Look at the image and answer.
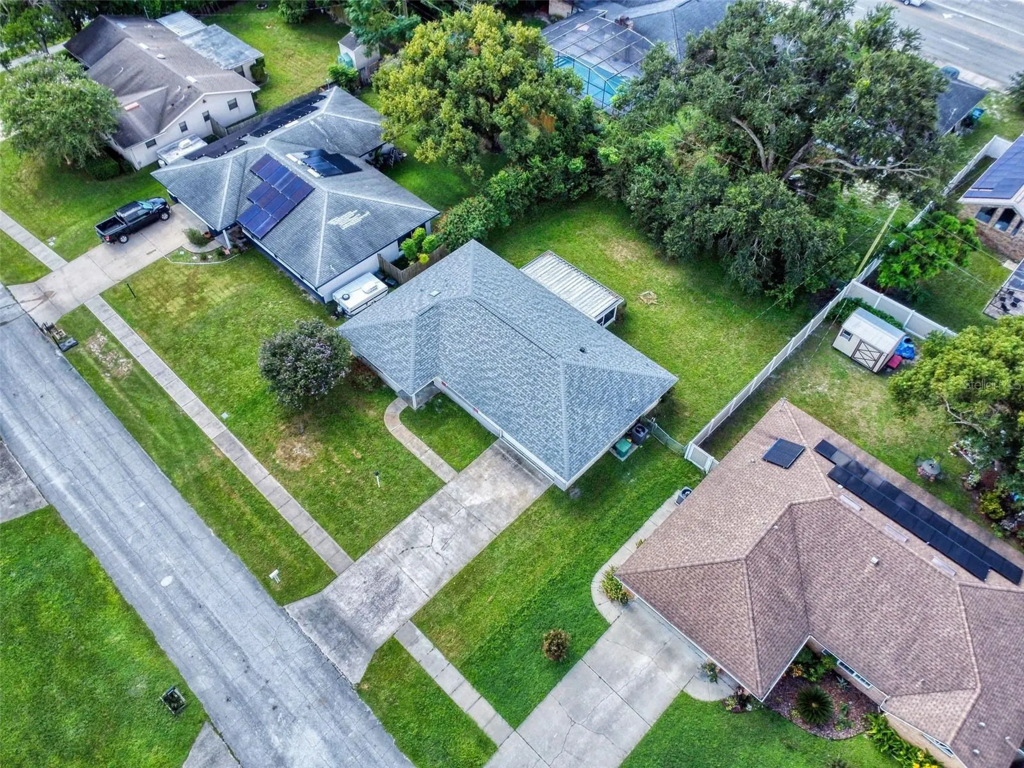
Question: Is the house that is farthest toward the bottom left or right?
right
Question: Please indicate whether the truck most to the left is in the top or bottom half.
top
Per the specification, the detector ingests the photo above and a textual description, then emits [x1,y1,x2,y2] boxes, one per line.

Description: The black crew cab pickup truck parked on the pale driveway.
[90,195,174,247]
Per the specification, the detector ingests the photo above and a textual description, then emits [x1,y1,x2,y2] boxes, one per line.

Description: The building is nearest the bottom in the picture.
[615,397,1024,768]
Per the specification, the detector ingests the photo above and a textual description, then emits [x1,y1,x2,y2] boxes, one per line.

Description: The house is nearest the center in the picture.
[338,239,677,492]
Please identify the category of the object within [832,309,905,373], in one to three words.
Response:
shed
